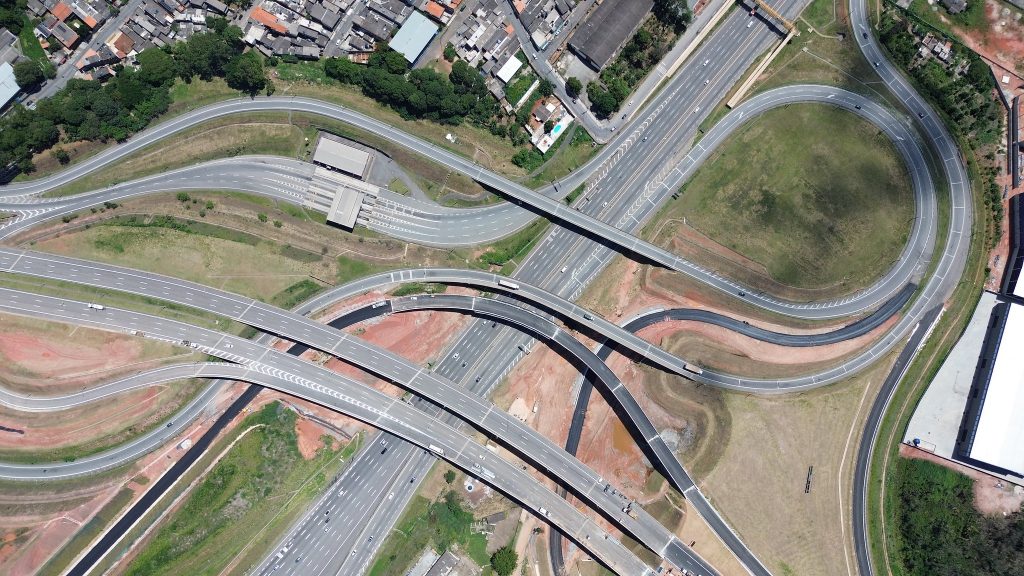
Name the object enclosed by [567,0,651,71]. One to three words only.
building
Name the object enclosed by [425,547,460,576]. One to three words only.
shed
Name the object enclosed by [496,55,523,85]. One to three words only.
house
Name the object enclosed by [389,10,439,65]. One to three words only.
building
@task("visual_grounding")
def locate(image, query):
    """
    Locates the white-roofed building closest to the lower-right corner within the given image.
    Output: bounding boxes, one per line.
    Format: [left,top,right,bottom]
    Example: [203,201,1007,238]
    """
[954,302,1024,475]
